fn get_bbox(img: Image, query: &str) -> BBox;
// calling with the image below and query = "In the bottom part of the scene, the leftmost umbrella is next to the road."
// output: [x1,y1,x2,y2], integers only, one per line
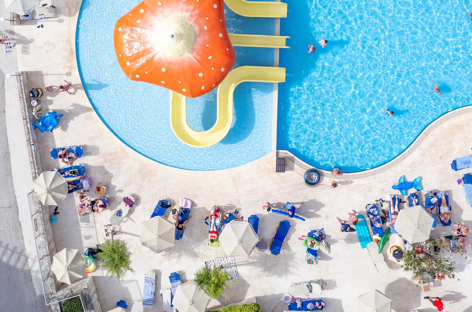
[31,169,69,207]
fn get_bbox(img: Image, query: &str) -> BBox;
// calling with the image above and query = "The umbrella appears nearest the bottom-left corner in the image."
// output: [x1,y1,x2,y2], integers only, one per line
[52,247,88,283]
